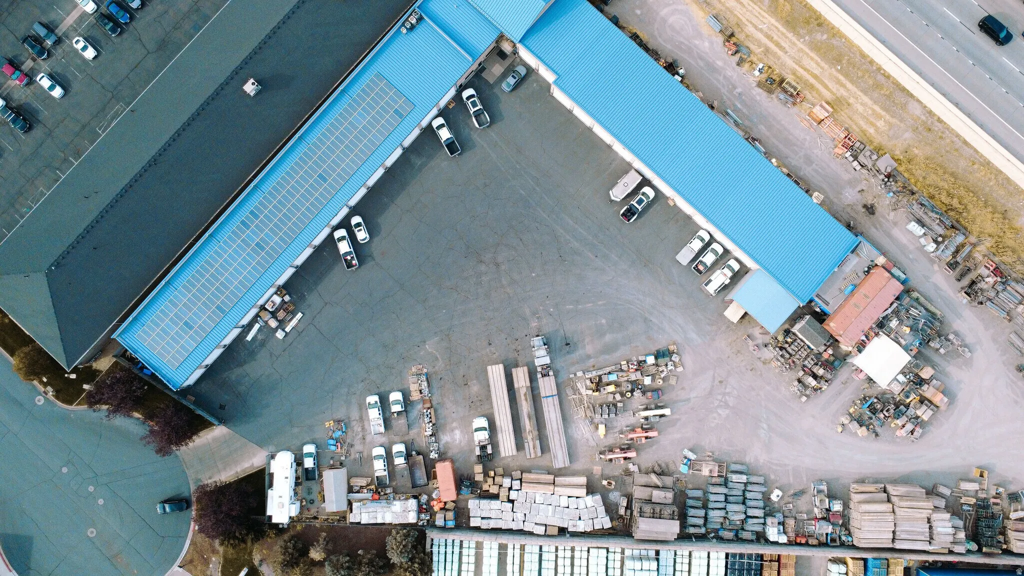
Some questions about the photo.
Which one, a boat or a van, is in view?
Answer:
van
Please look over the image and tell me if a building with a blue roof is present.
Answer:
Yes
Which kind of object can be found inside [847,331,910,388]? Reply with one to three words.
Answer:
tent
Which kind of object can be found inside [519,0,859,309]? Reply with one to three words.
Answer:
building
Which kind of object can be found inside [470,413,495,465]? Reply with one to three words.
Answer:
truck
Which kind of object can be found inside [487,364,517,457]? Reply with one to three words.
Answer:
trailer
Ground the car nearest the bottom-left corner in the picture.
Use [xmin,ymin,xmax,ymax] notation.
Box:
[157,497,190,513]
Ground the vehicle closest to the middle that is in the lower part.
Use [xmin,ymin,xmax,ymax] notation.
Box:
[531,334,554,392]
